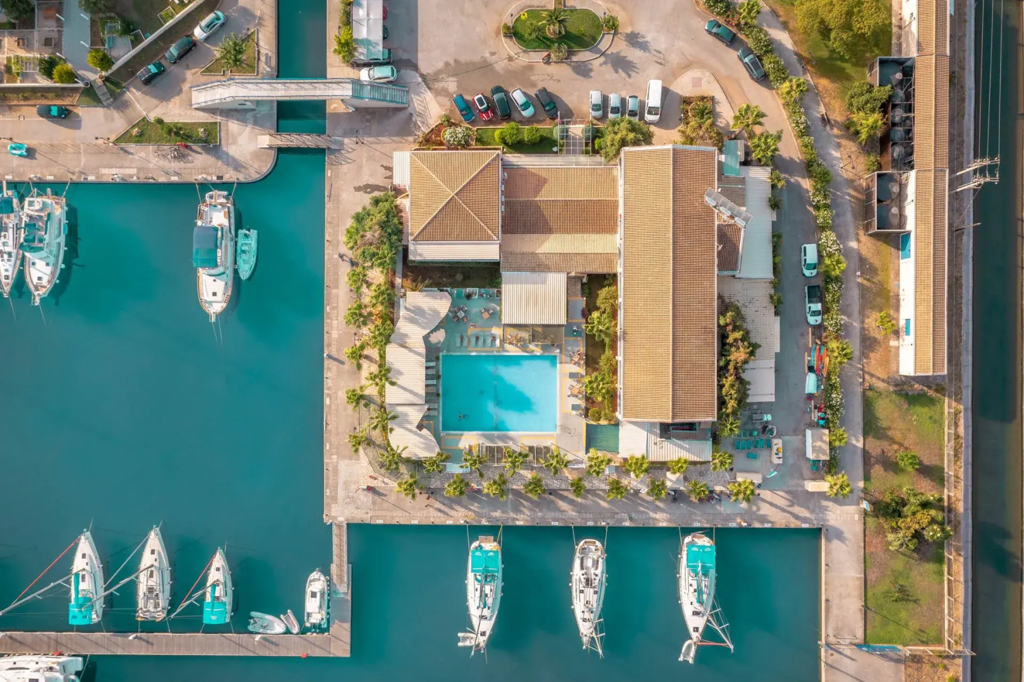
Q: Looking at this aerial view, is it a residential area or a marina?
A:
marina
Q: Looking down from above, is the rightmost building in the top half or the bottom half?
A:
top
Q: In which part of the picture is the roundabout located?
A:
top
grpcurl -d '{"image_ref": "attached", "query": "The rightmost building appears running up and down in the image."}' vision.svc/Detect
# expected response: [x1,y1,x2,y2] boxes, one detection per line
[899,0,951,376]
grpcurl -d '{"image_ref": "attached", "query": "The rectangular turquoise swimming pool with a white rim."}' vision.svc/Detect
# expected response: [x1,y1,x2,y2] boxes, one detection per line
[439,349,561,437]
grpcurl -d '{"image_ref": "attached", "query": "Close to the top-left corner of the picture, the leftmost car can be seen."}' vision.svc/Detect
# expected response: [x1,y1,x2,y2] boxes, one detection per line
[36,103,70,120]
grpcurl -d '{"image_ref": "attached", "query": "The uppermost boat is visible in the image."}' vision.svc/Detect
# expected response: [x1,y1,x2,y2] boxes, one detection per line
[7,143,28,156]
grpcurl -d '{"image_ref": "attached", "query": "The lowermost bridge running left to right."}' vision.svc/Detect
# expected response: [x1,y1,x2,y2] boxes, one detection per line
[258,132,344,148]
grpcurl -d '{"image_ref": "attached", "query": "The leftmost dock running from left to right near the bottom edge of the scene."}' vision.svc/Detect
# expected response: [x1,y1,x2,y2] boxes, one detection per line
[0,588,351,657]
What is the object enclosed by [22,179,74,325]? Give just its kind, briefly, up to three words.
boat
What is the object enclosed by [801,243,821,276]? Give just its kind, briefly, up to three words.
vehicle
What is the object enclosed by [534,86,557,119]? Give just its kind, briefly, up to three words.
car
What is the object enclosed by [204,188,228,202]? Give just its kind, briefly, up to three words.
boat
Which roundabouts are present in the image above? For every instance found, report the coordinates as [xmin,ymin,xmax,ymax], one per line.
[502,0,615,62]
